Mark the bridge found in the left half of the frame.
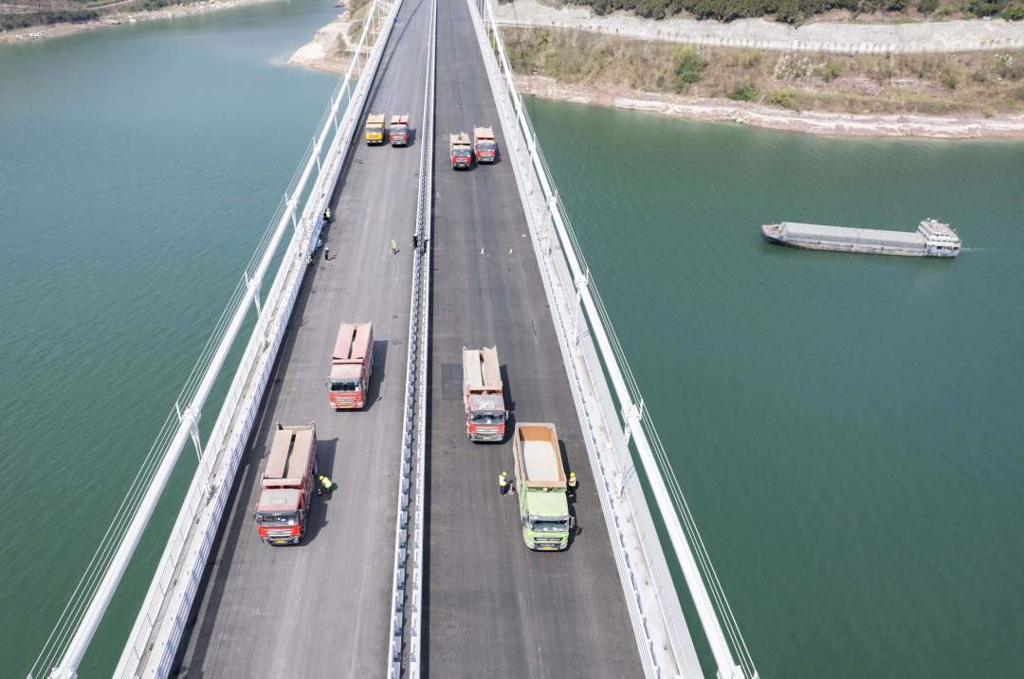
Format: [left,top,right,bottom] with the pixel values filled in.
[30,0,759,679]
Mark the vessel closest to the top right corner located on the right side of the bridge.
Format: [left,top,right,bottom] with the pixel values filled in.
[760,218,961,260]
